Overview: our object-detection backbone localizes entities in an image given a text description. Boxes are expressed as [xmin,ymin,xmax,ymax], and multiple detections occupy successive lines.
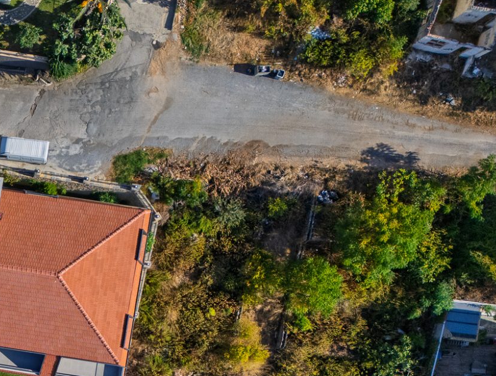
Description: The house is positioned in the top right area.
[410,0,496,81]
